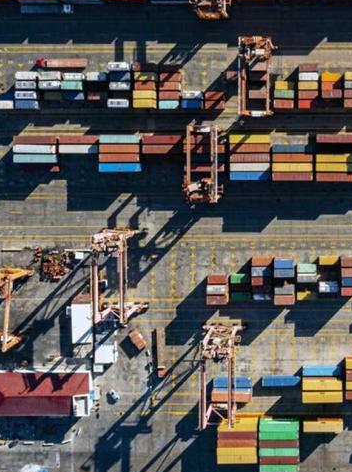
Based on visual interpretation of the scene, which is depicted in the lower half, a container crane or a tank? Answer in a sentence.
There is a container crane in the lower half.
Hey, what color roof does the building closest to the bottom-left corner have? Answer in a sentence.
The color of the roof on the building closest to the bottom-left corner is red.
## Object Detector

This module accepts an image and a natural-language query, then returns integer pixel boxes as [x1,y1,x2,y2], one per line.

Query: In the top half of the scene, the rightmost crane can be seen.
[227,32,284,121]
